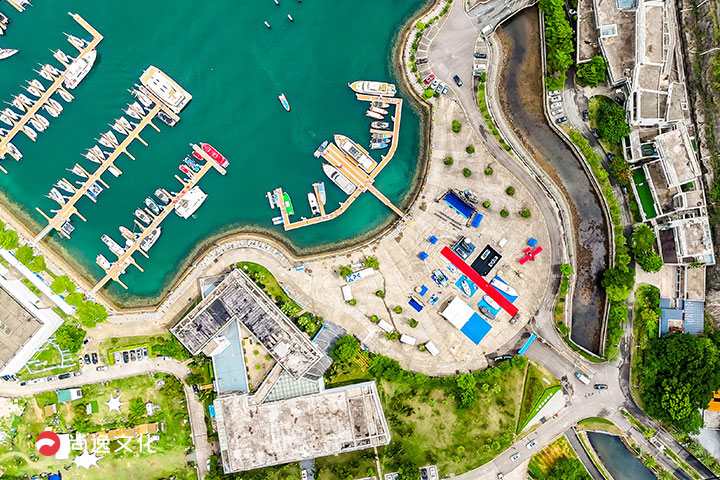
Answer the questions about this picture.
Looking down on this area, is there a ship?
Yes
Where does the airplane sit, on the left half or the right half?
right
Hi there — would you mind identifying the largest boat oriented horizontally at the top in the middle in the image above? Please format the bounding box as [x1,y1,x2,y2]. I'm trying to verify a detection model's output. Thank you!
[347,79,399,96]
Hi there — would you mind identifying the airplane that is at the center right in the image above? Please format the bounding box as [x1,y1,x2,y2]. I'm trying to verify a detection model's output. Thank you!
[522,246,546,267]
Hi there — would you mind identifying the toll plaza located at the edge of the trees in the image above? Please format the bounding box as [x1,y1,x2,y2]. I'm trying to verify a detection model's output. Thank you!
[647,429,667,458]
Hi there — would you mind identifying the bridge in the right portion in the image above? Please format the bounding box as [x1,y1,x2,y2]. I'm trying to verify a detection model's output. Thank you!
[465,0,542,38]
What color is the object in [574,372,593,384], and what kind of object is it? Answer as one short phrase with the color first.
white vehicle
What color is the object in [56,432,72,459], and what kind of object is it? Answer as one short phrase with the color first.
white tent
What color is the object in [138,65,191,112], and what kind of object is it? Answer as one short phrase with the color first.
white ship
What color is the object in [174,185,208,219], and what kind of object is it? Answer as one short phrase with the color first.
white boat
